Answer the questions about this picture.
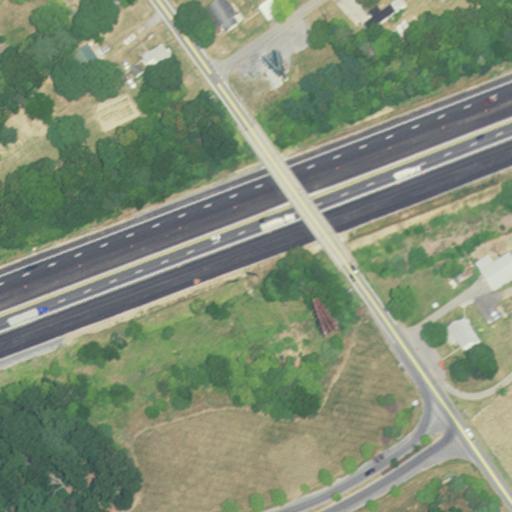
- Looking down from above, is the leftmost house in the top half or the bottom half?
top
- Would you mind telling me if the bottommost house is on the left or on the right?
right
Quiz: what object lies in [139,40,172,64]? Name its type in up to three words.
house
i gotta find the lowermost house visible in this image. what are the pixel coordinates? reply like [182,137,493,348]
[448,315,481,351]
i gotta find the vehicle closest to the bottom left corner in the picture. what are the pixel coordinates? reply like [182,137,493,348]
[7,306,48,326]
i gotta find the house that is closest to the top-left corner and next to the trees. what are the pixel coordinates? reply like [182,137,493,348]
[72,42,98,65]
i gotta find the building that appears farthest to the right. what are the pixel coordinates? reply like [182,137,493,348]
[474,248,512,290]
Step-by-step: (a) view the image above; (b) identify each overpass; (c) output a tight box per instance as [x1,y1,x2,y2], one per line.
[258,147,357,273]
